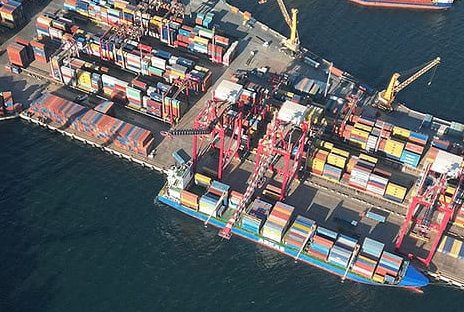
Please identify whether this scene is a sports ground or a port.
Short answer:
port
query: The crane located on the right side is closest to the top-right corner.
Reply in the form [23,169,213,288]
[373,59,438,115]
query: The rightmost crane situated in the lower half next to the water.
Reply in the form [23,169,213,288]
[392,142,464,263]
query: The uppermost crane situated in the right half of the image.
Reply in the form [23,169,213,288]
[277,0,305,55]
